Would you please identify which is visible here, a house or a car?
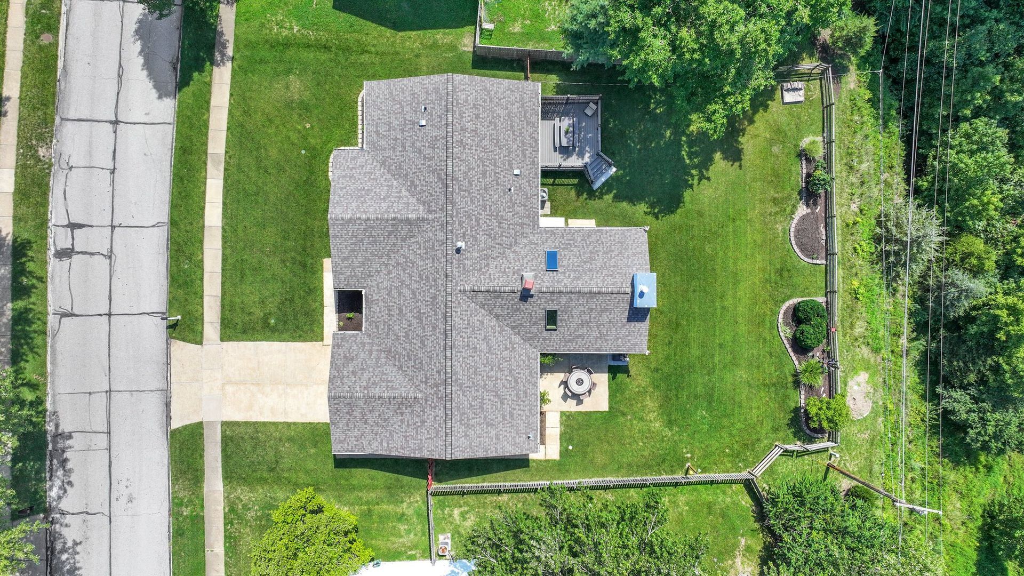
house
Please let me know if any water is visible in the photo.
No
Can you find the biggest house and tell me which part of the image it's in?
center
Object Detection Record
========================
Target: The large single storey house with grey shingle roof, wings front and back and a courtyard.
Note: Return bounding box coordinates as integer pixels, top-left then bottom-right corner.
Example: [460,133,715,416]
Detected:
[329,73,657,460]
